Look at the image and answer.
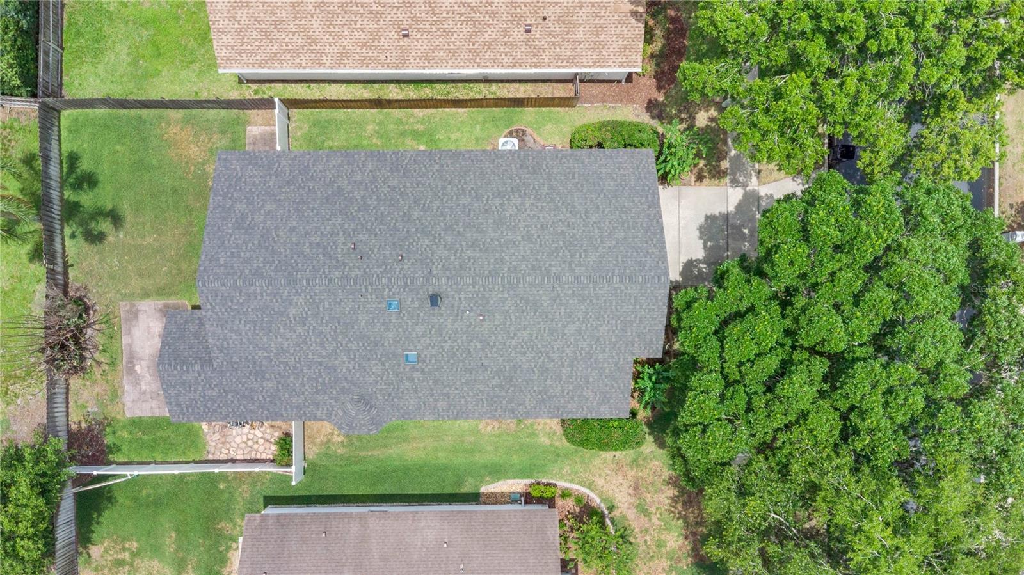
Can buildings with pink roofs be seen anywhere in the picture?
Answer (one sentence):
No, no building with a pink roof is visible in the scene.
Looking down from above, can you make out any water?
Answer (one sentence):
No, water can't be seen anywhere here.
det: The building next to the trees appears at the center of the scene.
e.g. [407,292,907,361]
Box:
[157,149,671,433]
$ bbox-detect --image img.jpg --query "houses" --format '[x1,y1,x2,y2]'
[157,149,671,433]
[206,0,646,84]
[236,500,561,575]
